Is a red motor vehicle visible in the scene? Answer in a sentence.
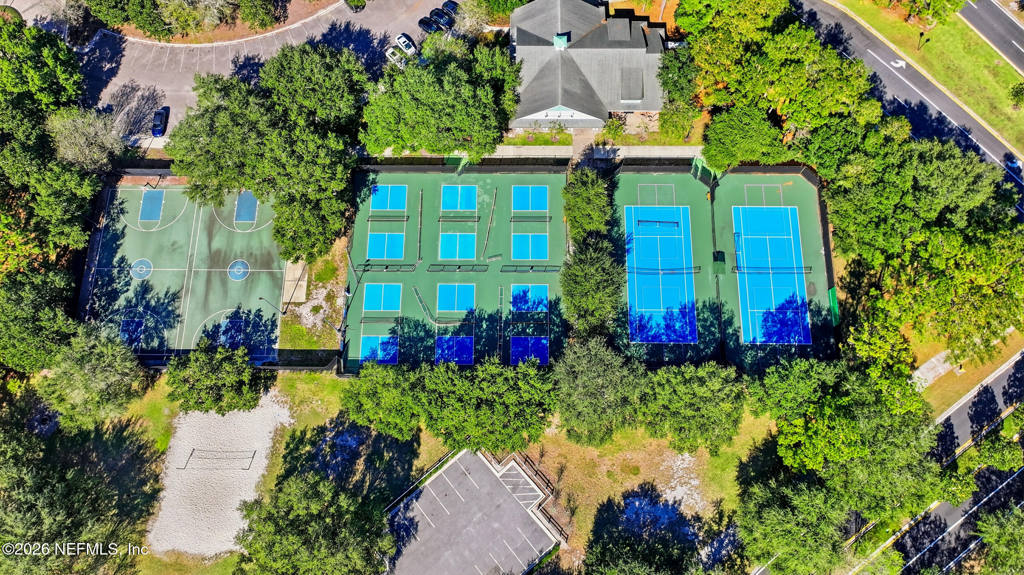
No, there is no red motor vehicle in the image.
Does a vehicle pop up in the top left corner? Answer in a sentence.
Yes, the scene does show a vehicle in the top left corner.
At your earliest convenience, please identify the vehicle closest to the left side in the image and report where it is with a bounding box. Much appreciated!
[151,111,167,137]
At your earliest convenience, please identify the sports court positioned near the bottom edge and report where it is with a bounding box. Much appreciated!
[144,388,296,559]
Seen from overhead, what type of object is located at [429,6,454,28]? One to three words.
car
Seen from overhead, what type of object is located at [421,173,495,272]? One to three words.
sports court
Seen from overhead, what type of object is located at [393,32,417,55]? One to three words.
car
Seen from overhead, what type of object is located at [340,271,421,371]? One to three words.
sports court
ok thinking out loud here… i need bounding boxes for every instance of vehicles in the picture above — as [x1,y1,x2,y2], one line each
[439,0,462,20]
[151,111,167,137]
[386,48,408,71]
[393,32,417,55]
[415,14,436,36]
[429,6,454,28]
